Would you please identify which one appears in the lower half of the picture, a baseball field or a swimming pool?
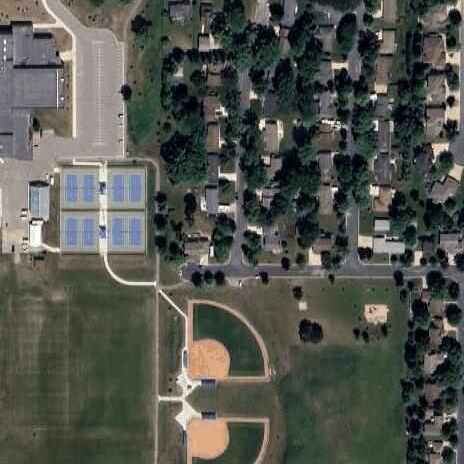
baseball field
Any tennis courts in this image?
Yes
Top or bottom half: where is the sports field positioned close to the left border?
bottom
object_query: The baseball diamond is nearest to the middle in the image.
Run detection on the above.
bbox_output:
[188,300,270,381]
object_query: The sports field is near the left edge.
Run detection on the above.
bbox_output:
[0,295,69,430]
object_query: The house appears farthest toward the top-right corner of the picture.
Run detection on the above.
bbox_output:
[420,2,449,27]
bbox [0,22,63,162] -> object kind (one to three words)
building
